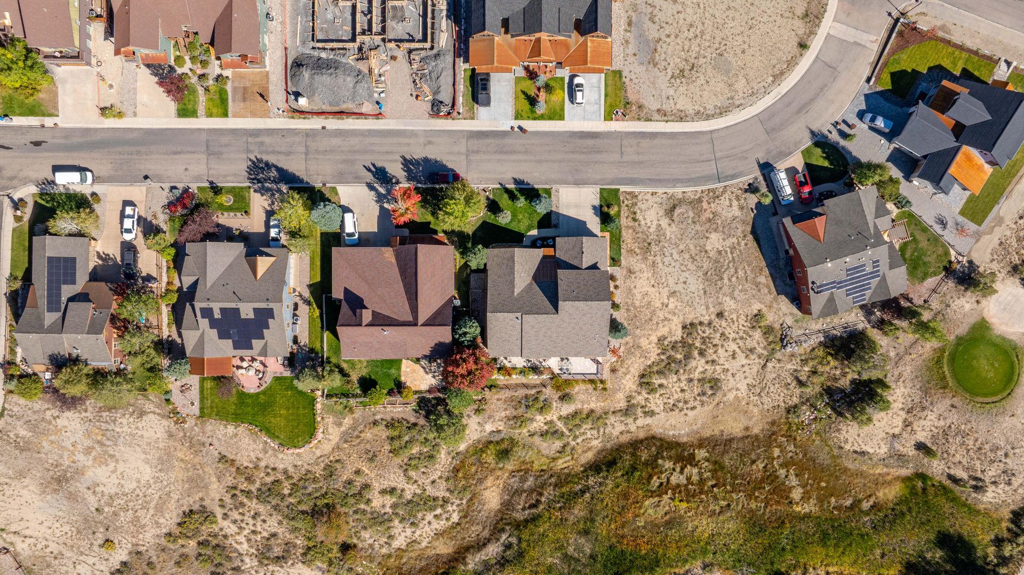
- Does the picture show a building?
Yes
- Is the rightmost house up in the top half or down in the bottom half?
top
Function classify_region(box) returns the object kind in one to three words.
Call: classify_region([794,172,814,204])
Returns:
vehicle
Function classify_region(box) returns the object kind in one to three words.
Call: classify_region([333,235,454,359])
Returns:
house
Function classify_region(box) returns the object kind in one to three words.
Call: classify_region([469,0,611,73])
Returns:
house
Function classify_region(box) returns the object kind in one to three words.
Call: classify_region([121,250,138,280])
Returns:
car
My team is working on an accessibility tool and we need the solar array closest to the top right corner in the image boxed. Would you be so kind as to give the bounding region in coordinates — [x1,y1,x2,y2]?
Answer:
[817,259,880,306]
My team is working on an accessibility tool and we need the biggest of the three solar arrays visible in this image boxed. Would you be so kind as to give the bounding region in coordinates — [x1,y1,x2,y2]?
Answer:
[200,308,274,350]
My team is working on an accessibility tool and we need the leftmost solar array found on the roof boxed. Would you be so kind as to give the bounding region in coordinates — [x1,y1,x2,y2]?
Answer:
[47,257,76,312]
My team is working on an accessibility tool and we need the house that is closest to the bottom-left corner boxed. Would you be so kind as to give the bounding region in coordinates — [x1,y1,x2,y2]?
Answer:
[13,235,126,376]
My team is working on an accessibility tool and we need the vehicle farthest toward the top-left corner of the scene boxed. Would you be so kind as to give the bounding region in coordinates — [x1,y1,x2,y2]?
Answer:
[53,169,96,185]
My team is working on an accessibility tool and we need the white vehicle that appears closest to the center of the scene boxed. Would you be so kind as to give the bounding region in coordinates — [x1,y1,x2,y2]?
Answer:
[343,211,359,246]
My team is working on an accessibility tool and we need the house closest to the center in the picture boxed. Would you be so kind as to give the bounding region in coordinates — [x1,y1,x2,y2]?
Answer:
[486,237,612,358]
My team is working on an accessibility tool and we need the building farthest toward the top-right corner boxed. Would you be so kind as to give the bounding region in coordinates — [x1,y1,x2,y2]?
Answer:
[887,73,1024,196]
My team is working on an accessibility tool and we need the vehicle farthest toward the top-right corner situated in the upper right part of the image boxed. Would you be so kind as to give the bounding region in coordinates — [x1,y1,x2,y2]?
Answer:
[860,112,895,135]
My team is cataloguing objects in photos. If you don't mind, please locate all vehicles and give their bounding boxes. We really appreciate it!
[120,205,139,241]
[267,214,283,248]
[121,250,138,280]
[53,169,96,185]
[860,112,895,135]
[794,172,814,204]
[572,75,587,107]
[343,211,359,246]
[770,168,793,205]
[476,73,491,108]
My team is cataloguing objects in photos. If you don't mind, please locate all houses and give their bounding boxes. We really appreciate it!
[0,0,91,68]
[333,235,454,359]
[486,237,612,358]
[178,242,293,378]
[114,0,268,73]
[887,73,1024,196]
[13,235,126,376]
[469,0,611,73]
[774,184,908,319]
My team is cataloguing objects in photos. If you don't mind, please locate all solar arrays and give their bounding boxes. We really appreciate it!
[200,308,274,350]
[817,259,880,306]
[47,257,76,312]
